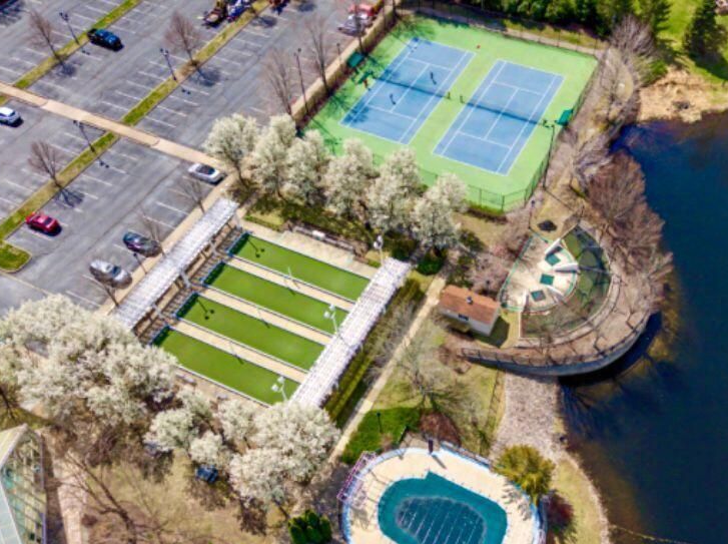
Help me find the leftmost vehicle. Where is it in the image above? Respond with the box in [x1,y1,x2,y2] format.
[0,106,23,128]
